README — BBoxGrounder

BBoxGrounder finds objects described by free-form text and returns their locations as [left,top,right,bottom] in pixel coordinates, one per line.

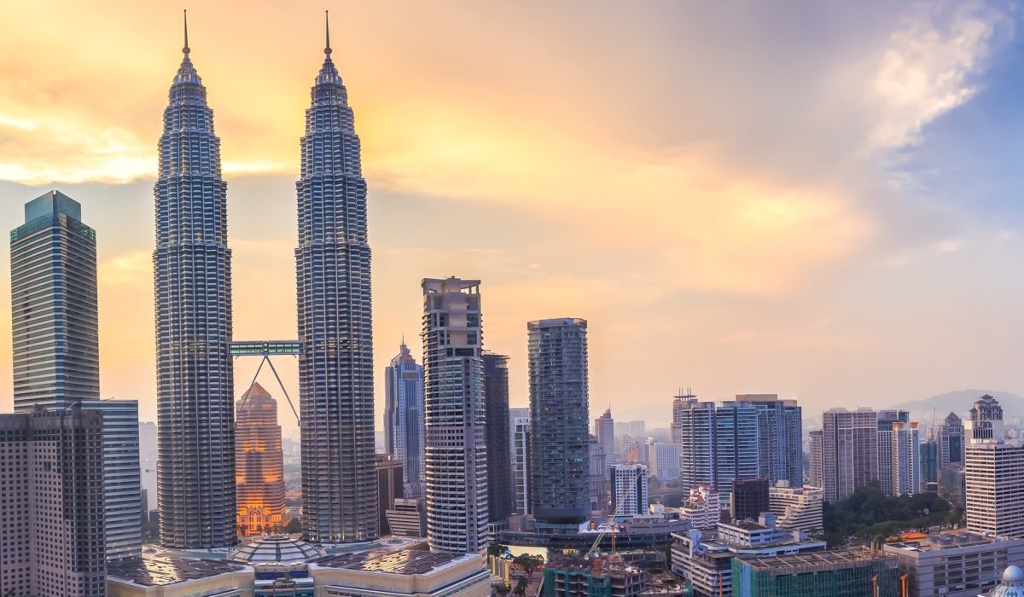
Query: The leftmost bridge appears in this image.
[227,341,301,417]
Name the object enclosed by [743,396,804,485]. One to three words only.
building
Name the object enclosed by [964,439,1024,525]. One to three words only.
building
